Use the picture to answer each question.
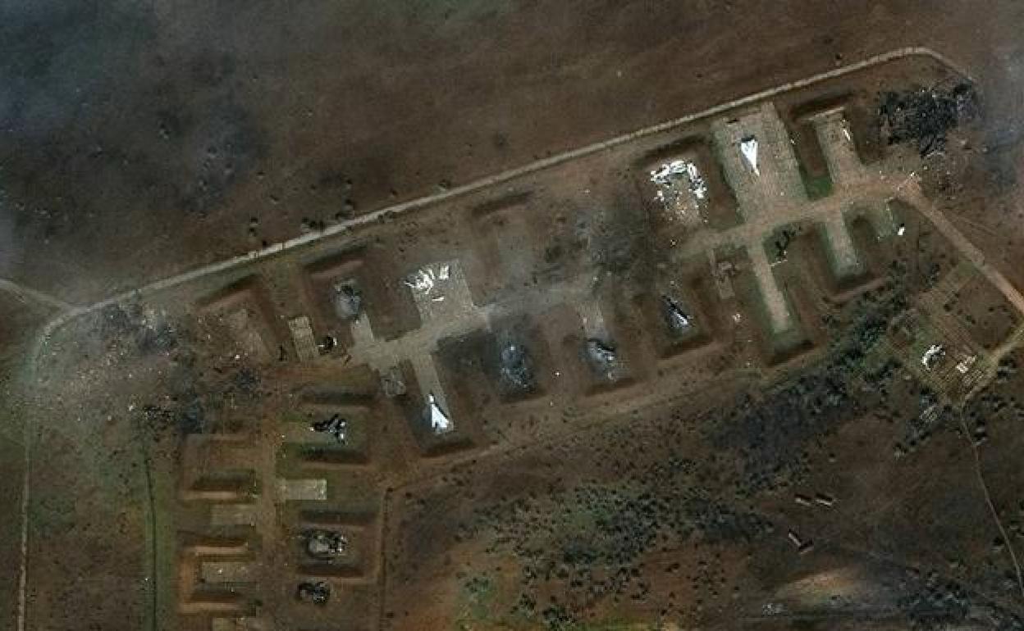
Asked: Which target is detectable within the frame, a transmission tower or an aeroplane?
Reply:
aeroplane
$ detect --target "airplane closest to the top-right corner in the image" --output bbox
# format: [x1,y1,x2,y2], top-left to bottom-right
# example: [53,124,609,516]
[740,136,759,175]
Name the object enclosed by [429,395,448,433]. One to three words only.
airplane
